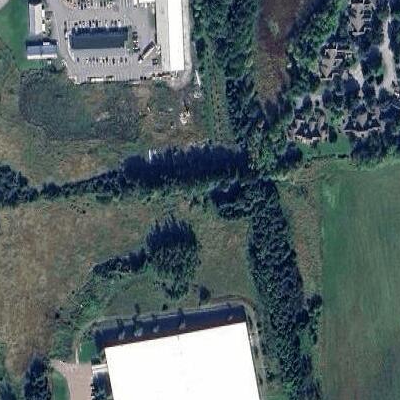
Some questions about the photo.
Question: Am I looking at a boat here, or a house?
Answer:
house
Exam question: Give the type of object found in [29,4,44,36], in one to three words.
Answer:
barn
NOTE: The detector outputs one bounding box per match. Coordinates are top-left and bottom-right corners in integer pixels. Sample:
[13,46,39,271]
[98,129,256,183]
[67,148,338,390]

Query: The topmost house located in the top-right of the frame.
[347,0,374,32]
